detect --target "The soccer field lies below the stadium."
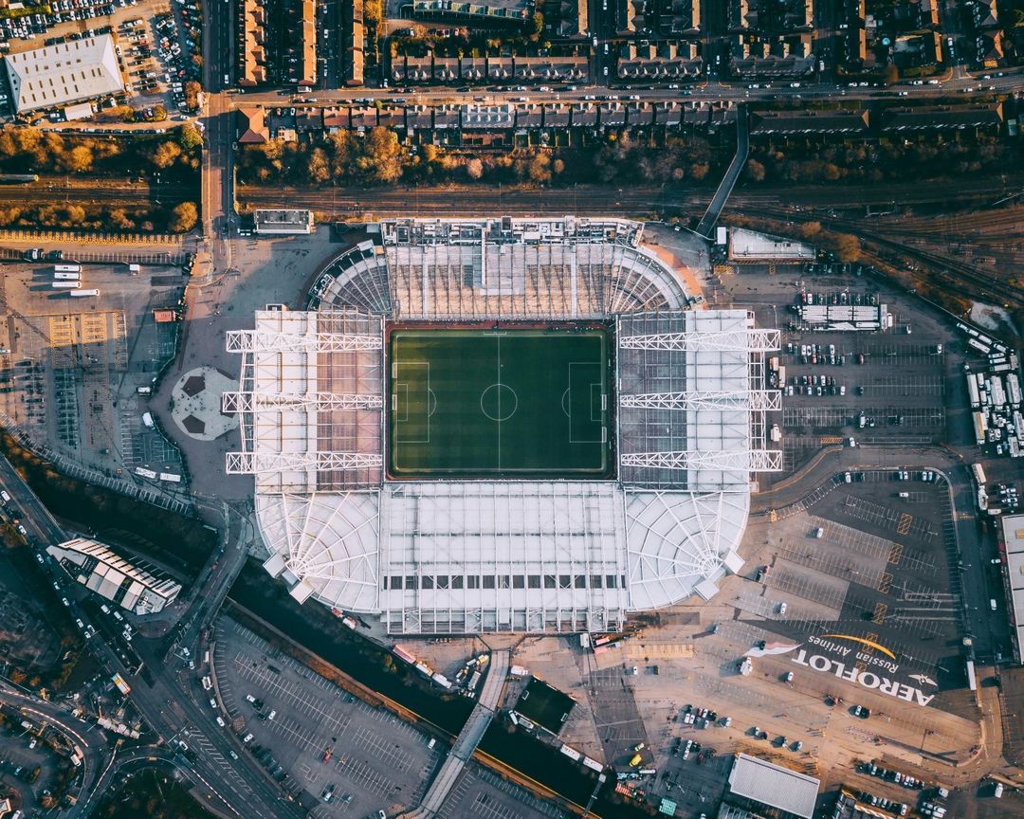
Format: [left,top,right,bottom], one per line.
[514,676,577,735]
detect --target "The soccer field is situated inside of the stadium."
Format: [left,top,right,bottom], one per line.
[387,320,616,475]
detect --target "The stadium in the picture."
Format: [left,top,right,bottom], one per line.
[222,216,780,634]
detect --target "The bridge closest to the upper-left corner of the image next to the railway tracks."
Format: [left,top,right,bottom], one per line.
[201,124,237,231]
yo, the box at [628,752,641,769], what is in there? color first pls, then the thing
yellow vehicle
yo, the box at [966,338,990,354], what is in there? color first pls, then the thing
white vehicle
